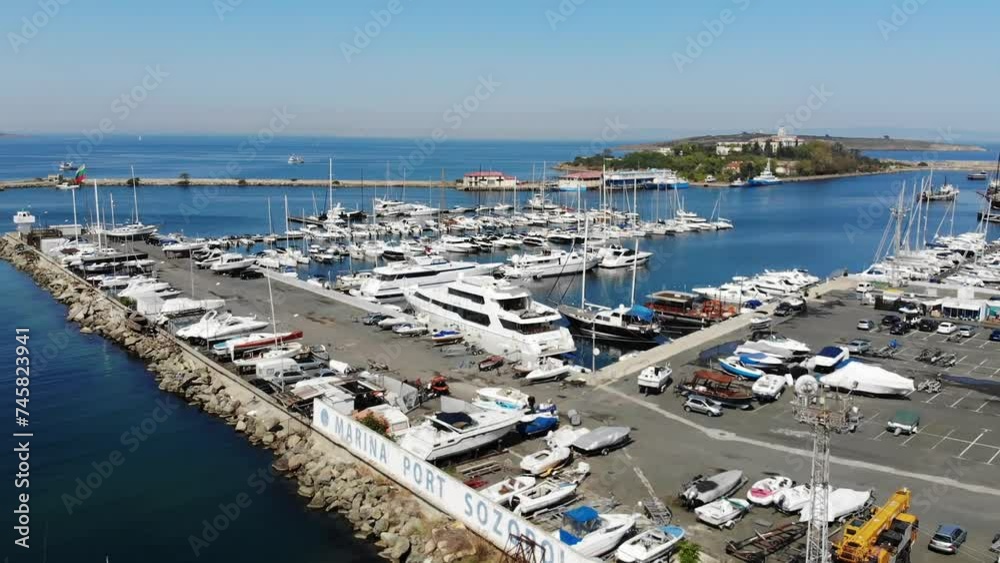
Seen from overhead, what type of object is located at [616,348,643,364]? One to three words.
boat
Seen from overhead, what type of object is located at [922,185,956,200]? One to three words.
boat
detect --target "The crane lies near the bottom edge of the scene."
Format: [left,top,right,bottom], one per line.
[832,483,914,563]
